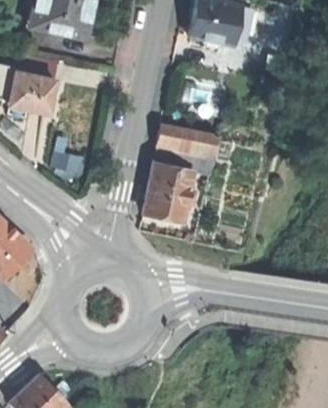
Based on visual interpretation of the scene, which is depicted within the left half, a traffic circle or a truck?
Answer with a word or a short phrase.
traffic circle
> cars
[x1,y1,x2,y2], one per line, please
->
[135,10,146,30]
[114,110,123,128]
[64,40,82,50]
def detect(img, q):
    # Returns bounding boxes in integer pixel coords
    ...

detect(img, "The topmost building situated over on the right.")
[190,0,246,49]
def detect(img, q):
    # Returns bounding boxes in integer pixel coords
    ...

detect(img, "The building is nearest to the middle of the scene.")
[142,160,201,226]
